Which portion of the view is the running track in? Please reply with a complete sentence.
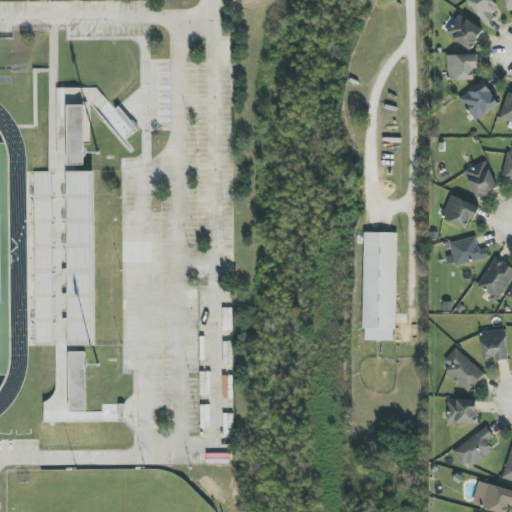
The running track appears toward the left of the photo.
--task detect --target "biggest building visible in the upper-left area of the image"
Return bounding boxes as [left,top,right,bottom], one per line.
[65,104,90,165]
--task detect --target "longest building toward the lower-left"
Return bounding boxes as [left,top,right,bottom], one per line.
[66,352,86,411]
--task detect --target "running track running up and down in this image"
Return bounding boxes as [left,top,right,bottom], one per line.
[0,104,26,416]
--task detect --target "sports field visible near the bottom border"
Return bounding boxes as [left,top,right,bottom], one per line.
[6,469,210,512]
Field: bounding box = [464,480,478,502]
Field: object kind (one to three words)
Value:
swimming pool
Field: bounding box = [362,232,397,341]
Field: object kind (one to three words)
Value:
barn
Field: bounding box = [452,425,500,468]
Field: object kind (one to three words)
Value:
house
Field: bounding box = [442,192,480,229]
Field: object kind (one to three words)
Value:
house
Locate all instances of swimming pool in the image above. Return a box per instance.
[491,316,502,327]
[464,480,478,502]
